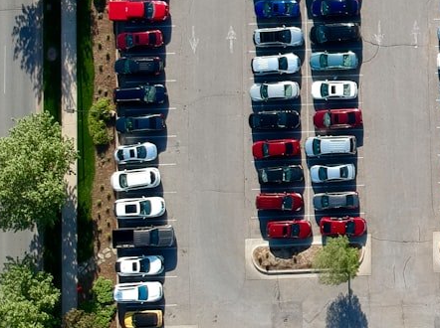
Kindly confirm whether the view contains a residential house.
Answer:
No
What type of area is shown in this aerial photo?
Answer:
parking lot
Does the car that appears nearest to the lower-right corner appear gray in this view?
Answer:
No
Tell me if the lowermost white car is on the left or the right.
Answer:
left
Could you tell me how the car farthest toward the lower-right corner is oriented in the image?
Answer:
horizontally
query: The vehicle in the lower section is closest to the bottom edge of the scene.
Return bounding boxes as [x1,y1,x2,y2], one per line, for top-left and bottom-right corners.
[125,309,164,328]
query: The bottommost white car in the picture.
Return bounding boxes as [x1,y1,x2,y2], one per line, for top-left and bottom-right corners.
[113,280,164,304]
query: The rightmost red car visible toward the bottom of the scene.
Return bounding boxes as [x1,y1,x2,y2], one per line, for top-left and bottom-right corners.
[320,216,366,238]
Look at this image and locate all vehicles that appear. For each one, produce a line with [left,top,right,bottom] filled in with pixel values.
[258,163,303,184]
[116,255,165,277]
[117,112,167,134]
[249,108,301,131]
[114,196,167,219]
[114,143,159,163]
[320,216,366,238]
[311,163,355,184]
[113,280,164,304]
[314,108,363,129]
[110,224,175,248]
[311,51,359,72]
[251,51,301,74]
[256,191,303,213]
[118,30,164,50]
[310,22,360,45]
[111,169,162,191]
[312,80,358,101]
[125,309,164,328]
[251,81,300,103]
[253,138,301,159]
[106,0,171,22]
[253,24,303,47]
[267,219,312,241]
[255,0,300,19]
[313,192,359,212]
[112,83,168,104]
[114,53,165,75]
[306,135,356,158]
